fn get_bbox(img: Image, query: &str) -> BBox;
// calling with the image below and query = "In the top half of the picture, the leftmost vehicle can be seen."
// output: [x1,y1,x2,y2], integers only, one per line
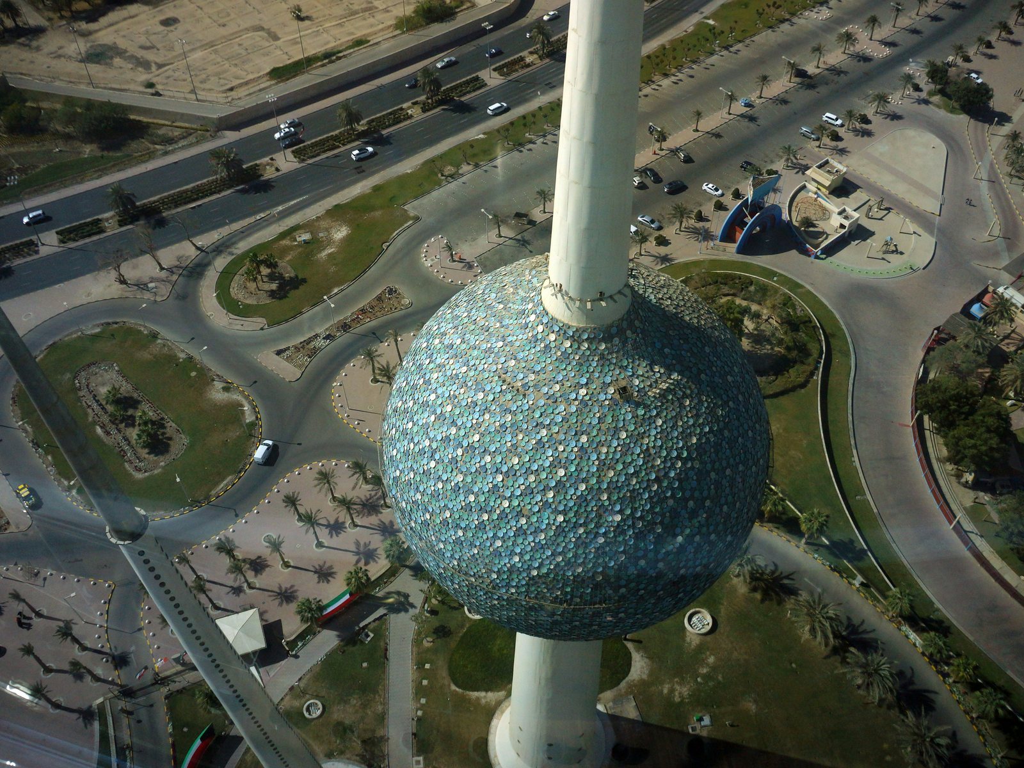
[17,207,46,224]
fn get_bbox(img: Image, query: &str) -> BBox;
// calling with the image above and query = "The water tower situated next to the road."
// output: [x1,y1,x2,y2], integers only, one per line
[375,0,779,768]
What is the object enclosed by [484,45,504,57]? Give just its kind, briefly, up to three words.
vehicle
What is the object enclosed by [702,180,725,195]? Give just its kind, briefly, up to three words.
car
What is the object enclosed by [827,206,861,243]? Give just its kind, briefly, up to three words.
building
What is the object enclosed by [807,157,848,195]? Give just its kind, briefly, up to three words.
building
